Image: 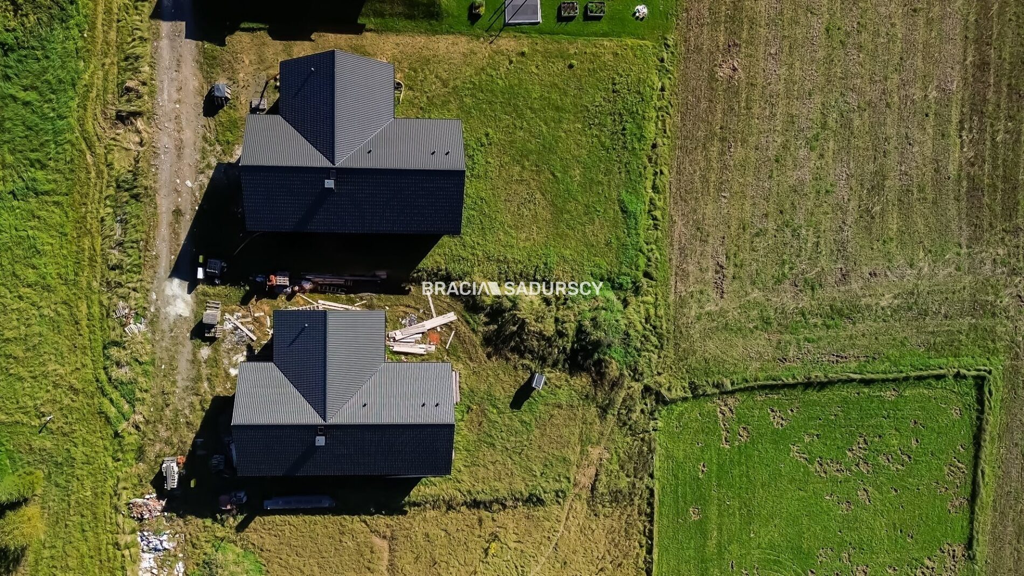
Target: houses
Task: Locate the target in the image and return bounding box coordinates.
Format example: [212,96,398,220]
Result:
[230,310,455,477]
[239,49,466,236]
